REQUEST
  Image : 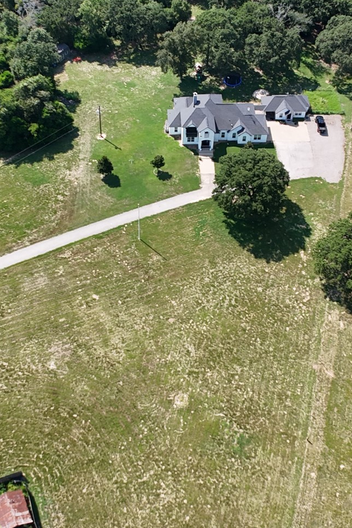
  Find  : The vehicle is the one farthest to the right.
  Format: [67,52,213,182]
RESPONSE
[316,118,328,134]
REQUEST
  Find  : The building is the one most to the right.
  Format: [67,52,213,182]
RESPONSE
[261,94,312,122]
